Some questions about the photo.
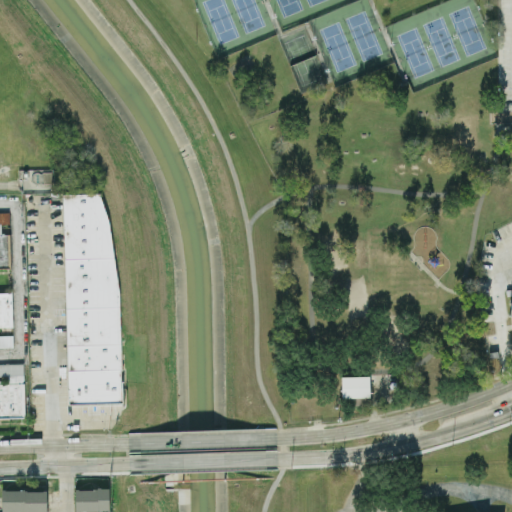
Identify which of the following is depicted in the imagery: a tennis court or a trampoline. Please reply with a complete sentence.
This aerial view contains a tennis court.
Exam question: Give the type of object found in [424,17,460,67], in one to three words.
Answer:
tennis court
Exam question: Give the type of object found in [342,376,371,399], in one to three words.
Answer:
house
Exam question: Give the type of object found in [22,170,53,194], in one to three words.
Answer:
building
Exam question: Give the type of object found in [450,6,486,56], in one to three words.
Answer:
tennis court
